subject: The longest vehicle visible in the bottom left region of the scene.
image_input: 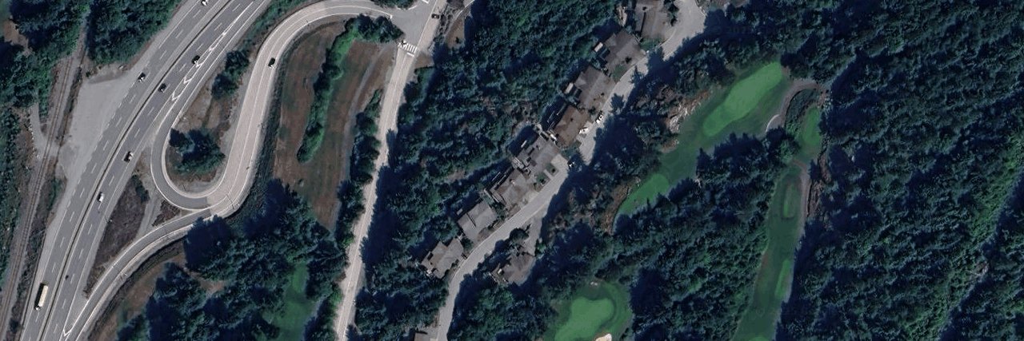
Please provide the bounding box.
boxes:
[37,284,50,309]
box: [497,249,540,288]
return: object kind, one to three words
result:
house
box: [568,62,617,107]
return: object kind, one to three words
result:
house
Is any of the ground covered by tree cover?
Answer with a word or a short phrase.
Yes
